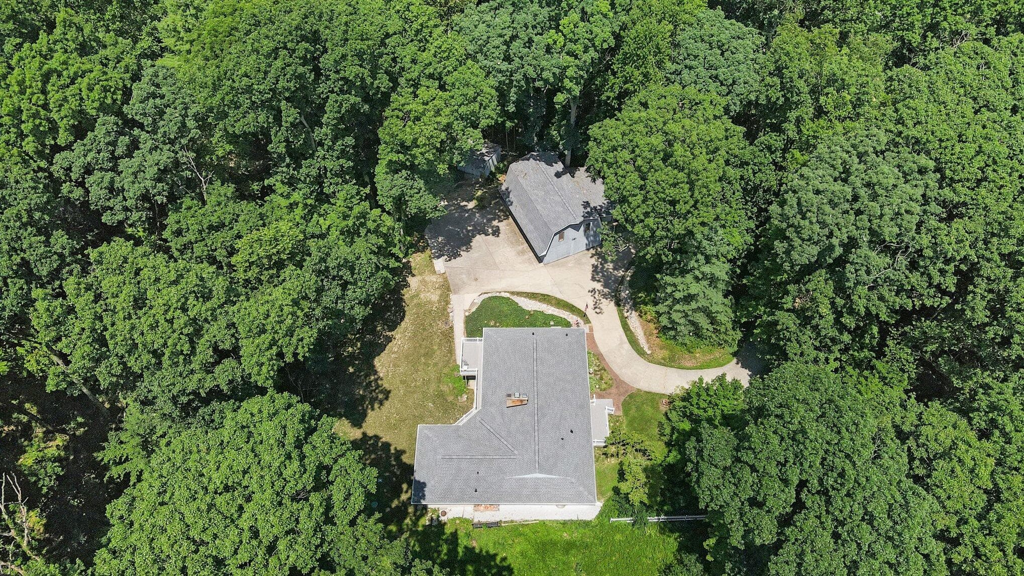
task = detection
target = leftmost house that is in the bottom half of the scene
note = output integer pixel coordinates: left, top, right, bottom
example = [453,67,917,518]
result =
[411,327,598,506]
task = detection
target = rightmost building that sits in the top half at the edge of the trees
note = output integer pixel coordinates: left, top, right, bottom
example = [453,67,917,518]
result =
[498,152,631,264]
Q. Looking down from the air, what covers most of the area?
trees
